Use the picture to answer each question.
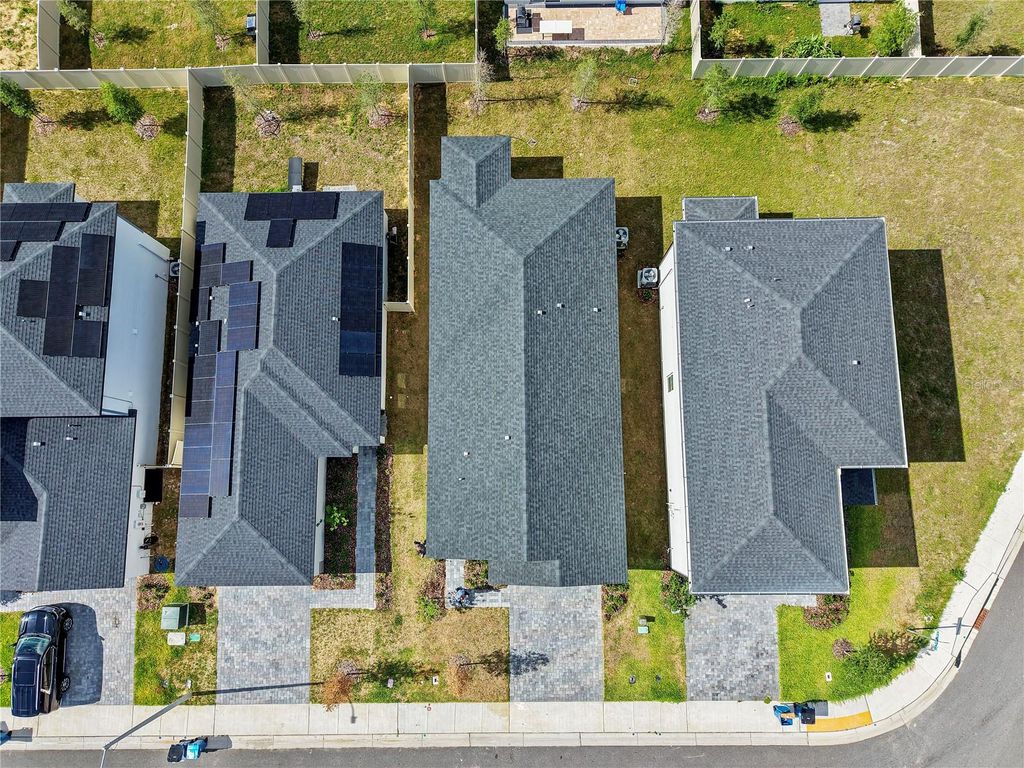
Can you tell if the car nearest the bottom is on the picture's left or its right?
left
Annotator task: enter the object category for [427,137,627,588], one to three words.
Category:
house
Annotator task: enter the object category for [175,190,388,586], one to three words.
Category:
house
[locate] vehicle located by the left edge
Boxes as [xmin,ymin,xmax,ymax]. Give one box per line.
[9,606,74,722]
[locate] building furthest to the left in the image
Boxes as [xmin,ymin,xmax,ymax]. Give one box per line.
[0,182,168,595]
